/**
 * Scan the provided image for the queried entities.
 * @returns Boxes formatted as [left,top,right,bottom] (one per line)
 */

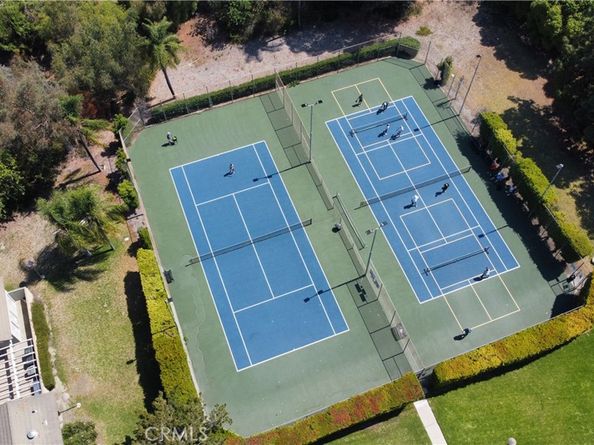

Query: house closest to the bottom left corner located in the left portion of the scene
[0,392,71,445]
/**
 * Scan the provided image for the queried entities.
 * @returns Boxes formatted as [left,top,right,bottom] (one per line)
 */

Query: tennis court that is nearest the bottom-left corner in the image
[128,89,413,444]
